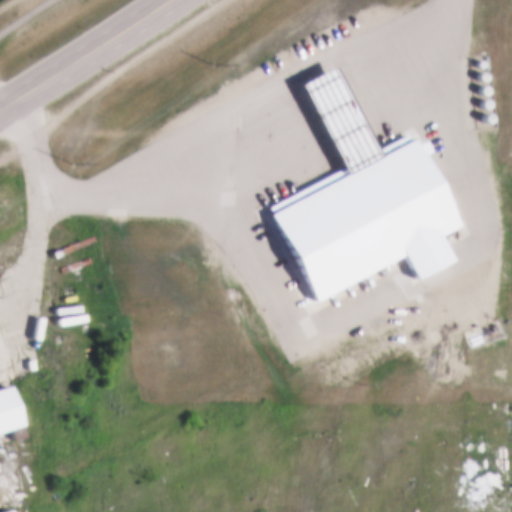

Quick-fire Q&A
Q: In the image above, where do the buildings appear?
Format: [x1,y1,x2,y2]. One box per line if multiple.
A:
[0,386,29,436]
[266,68,464,300]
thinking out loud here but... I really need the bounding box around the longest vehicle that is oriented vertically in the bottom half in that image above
[34,316,49,348]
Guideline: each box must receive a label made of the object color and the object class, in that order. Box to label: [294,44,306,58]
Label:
white vehicle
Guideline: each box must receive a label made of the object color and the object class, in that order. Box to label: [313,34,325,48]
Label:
white vehicle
